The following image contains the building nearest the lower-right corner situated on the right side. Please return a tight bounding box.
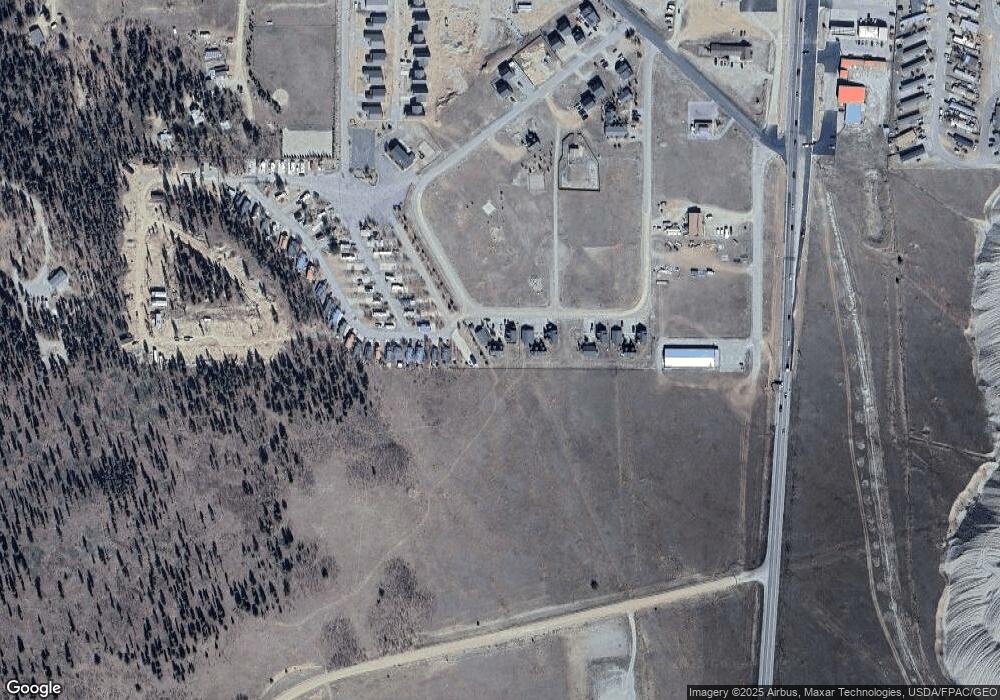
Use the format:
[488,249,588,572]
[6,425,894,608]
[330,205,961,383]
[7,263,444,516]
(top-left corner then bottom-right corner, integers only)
[665,348,720,368]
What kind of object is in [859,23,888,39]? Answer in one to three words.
building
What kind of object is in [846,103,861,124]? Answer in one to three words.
building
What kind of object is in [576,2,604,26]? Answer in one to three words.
house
